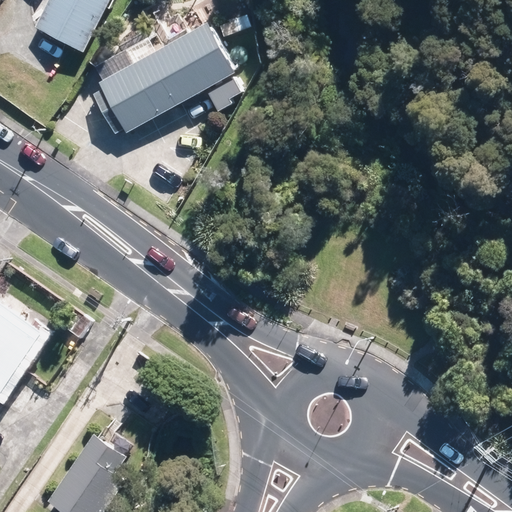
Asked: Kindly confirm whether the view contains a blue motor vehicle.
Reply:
Yes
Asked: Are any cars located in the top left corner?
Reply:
Yes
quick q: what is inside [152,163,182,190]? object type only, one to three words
car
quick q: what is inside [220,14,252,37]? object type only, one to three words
shed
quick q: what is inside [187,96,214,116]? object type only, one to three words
vehicle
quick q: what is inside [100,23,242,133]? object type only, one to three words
house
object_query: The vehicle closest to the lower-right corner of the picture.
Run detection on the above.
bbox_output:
[438,442,466,466]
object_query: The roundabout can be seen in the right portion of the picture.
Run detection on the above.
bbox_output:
[308,392,352,437]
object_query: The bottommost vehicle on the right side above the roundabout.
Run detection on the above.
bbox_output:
[336,374,368,390]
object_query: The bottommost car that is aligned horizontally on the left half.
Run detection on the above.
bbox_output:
[176,135,204,150]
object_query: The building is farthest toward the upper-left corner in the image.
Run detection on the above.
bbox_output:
[36,0,112,52]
